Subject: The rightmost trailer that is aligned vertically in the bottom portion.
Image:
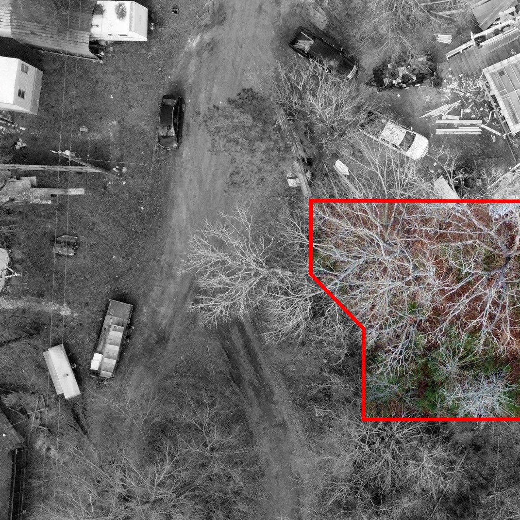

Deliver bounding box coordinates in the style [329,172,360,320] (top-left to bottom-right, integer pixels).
[89,297,136,386]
